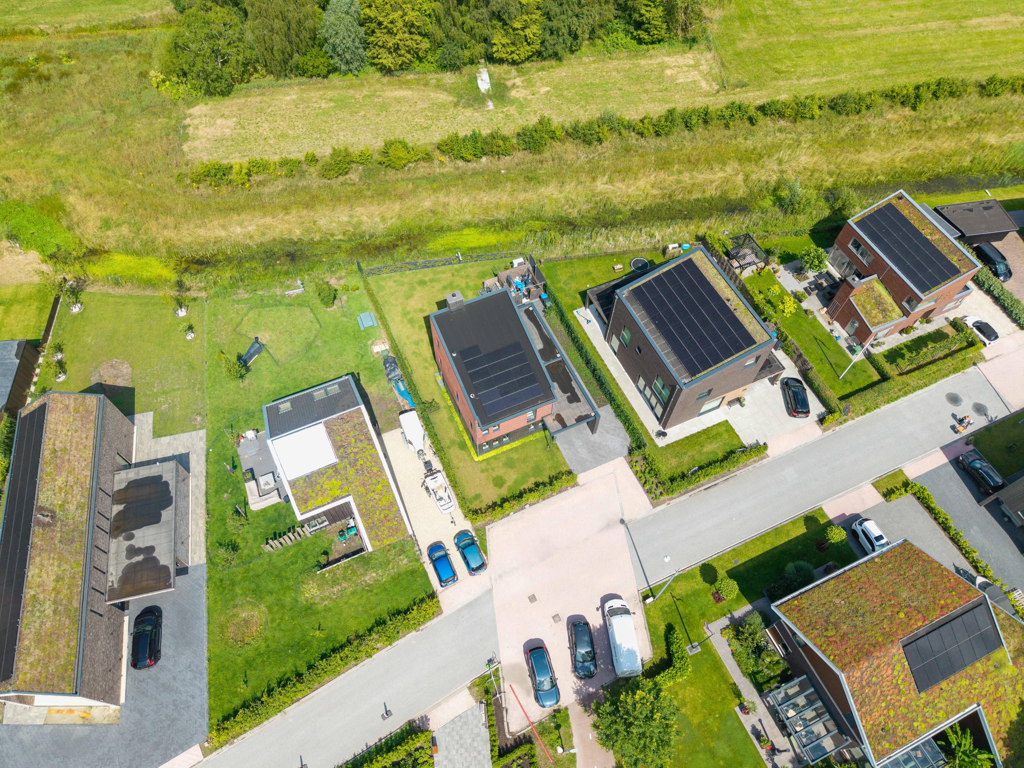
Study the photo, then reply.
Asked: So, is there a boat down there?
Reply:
Yes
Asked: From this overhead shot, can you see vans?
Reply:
Yes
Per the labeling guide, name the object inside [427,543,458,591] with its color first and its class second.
blue car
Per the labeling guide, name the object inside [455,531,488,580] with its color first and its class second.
blue car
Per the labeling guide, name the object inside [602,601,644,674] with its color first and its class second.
white van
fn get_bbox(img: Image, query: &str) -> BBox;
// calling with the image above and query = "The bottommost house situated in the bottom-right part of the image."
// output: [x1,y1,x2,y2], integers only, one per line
[759,538,1024,768]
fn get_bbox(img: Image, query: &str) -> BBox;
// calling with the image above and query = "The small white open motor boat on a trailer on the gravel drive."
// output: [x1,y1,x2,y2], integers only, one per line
[425,465,456,517]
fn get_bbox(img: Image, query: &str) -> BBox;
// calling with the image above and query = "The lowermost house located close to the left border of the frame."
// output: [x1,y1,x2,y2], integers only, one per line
[0,393,193,729]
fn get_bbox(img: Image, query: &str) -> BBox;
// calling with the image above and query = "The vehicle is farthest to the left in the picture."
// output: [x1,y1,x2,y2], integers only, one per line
[126,609,162,674]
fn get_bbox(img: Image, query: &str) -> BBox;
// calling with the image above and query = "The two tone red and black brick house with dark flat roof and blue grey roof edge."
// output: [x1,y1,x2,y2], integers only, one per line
[430,290,600,456]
